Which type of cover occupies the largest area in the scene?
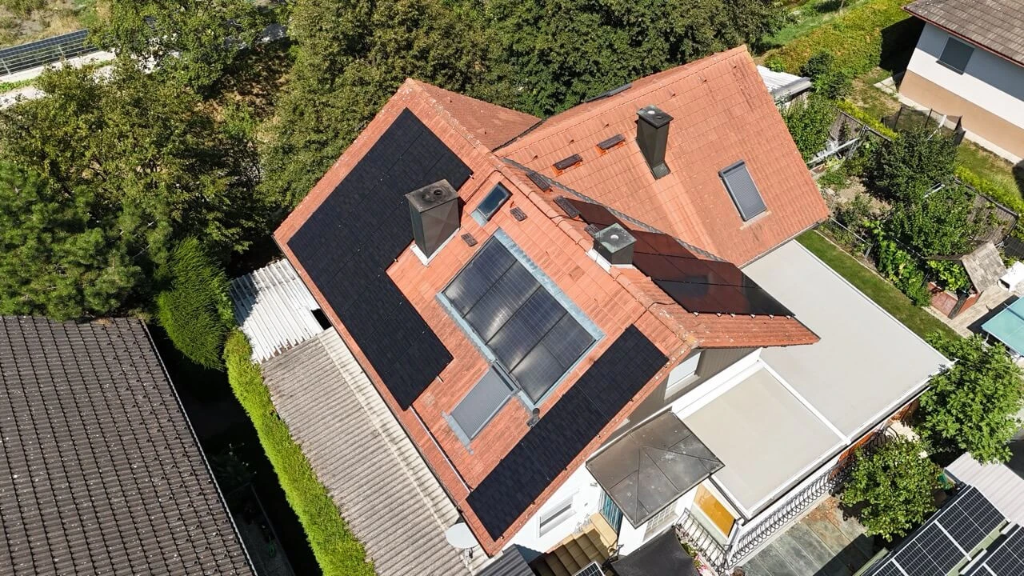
buildings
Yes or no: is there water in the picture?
No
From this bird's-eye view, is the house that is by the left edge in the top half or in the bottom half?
bottom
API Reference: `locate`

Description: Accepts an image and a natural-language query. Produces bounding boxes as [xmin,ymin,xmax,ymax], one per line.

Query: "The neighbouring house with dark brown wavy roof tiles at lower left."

[0,313,260,576]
